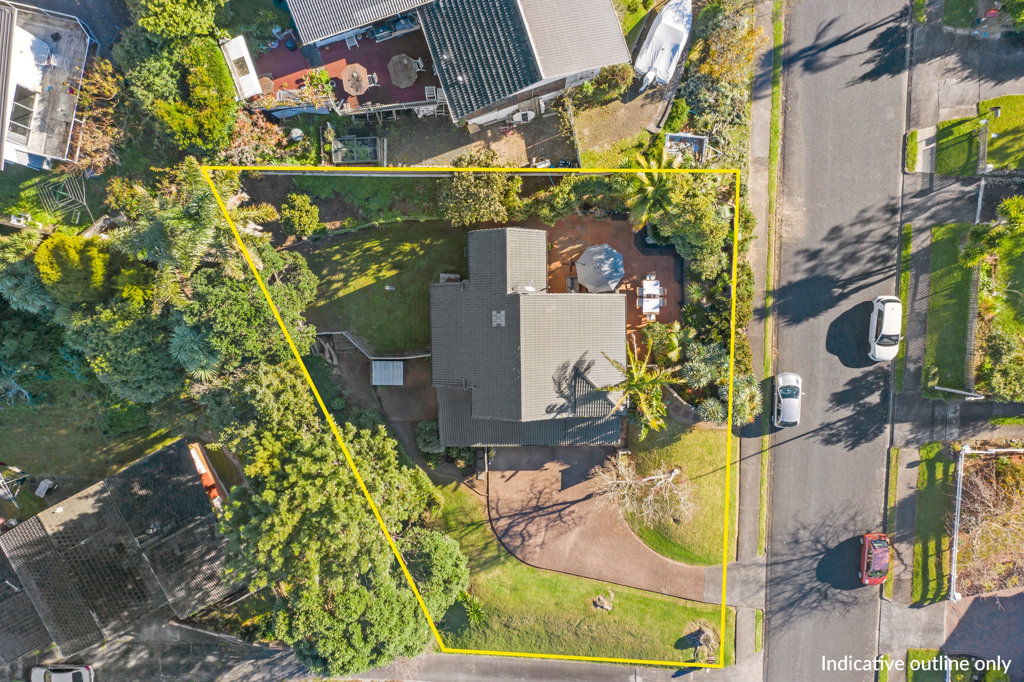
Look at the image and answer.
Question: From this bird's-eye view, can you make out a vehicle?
Yes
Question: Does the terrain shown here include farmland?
No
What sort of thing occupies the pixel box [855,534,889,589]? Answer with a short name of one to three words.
car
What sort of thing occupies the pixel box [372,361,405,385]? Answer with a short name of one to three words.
shed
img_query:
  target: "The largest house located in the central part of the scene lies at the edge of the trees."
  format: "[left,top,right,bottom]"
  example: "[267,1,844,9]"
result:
[429,226,629,448]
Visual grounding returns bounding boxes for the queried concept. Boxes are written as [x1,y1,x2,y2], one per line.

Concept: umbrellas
[563,244,625,293]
